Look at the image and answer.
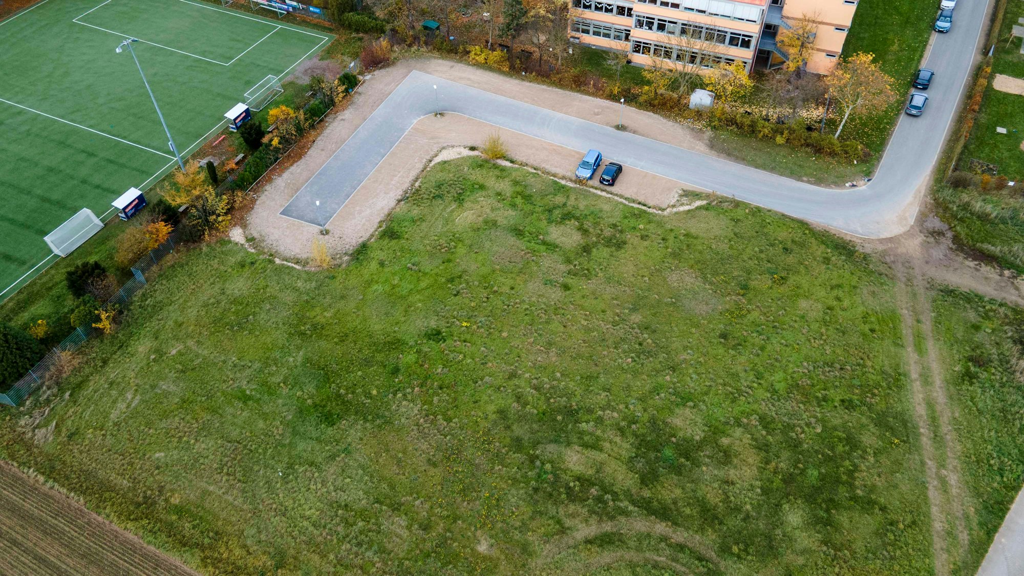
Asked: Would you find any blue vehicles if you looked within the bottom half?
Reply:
No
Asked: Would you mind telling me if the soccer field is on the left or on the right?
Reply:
left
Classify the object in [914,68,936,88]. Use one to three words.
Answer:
car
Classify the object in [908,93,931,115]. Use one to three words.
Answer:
car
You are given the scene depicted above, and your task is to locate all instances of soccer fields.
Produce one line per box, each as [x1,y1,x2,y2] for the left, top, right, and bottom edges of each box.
[0,0,343,307]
